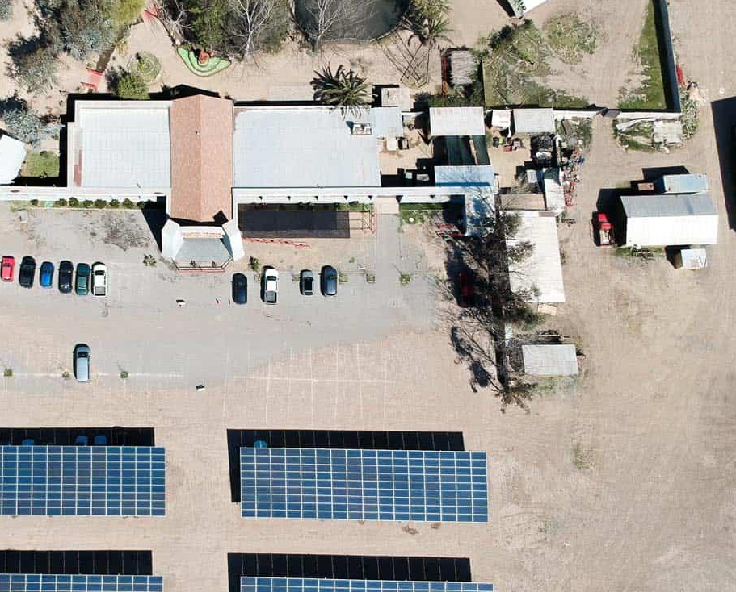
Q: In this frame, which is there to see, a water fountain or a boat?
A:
water fountain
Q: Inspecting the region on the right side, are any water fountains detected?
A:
No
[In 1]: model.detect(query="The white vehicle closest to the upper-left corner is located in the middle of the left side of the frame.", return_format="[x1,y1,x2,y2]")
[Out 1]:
[92,262,108,297]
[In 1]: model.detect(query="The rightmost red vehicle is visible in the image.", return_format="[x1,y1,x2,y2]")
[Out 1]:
[595,213,614,247]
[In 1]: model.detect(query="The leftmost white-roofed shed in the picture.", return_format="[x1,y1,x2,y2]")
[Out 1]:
[0,135,30,186]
